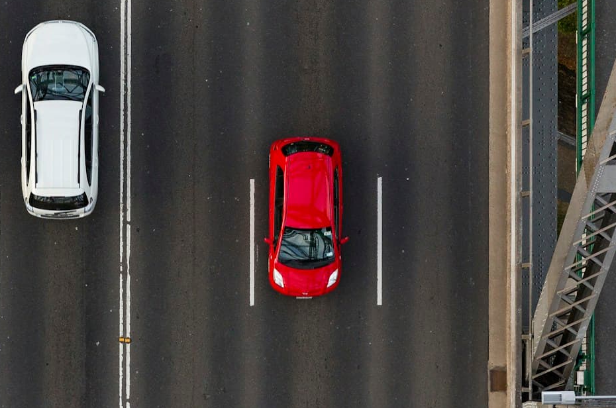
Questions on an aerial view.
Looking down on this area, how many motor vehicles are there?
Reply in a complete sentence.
My tally gives 2 motor vehicles in this view.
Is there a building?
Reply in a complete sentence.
No, I find no building anywhere in the image.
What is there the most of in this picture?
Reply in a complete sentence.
The scene is dominated by paved ground.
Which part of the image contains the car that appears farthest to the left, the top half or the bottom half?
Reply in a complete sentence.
The car that appears farthest to the left is in the top half of the image.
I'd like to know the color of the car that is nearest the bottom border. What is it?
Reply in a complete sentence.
The car that is nearest the bottom border looks red in the image.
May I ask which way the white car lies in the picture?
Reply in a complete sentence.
The white car runs up and down in the image.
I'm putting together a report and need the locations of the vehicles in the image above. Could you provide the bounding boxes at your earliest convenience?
[13,21,105,218]
[262,137,348,297]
